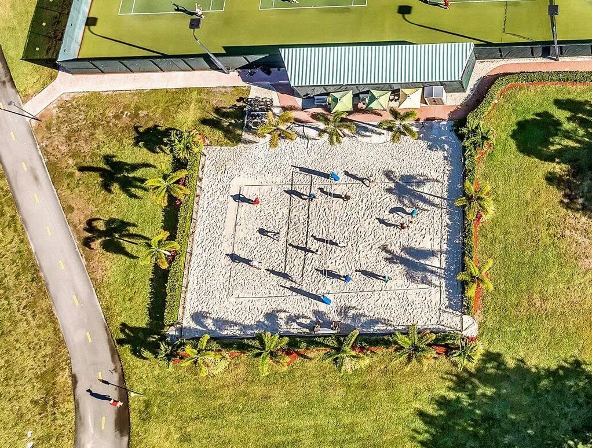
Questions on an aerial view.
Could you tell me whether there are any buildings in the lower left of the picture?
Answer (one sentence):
No, looking in the lower left of the picture, there is no building.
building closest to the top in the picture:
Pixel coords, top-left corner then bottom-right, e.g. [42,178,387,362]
[279,43,477,97]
